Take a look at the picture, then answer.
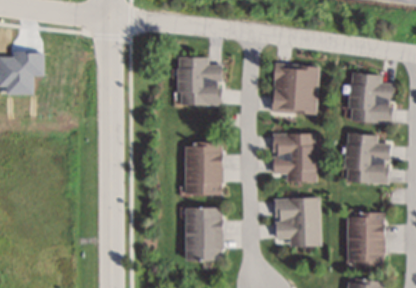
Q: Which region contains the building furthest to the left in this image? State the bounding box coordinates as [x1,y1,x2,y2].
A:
[0,50,44,95]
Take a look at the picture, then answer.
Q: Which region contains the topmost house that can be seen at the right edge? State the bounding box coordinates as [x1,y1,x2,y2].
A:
[342,74,396,123]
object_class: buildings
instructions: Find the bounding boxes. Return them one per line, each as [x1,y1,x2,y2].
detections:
[348,212,386,266]
[274,134,318,182]
[174,56,222,108]
[0,50,44,95]
[180,142,223,198]
[180,206,223,264]
[348,134,390,184]
[276,198,322,248]
[342,74,396,123]
[271,62,321,116]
